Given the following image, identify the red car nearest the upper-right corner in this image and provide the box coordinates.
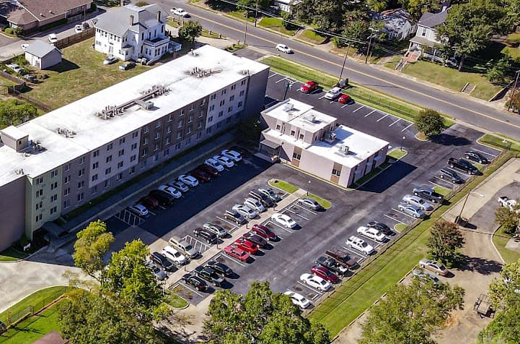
[336,91,353,104]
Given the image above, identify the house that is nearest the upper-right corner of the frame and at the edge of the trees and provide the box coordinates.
[404,14,449,59]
